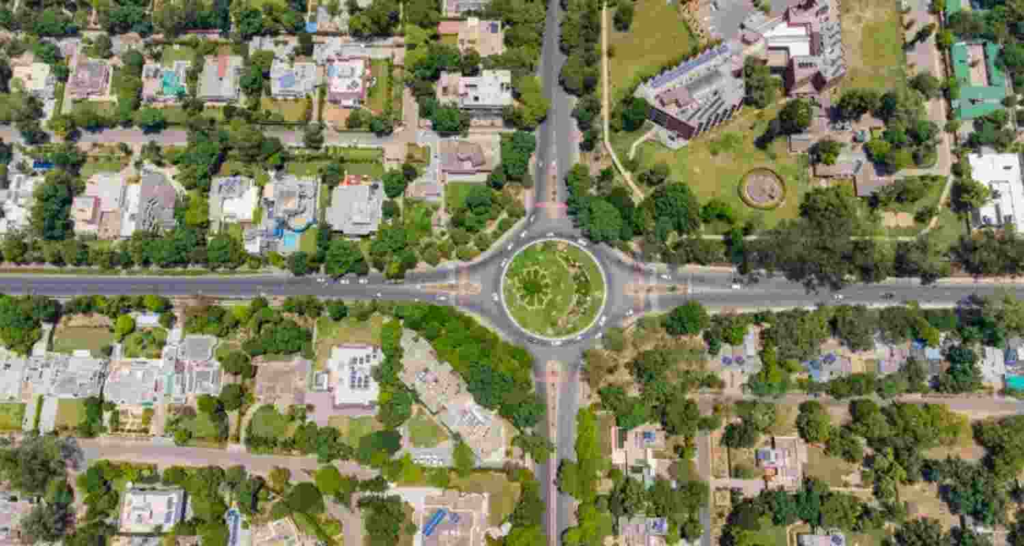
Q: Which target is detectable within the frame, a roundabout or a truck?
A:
roundabout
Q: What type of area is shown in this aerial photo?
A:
residential area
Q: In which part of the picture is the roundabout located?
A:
center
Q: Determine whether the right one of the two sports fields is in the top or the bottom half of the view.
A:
top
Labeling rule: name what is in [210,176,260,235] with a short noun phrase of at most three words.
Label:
house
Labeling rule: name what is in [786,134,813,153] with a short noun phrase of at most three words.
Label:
shed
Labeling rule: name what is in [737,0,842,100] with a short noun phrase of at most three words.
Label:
building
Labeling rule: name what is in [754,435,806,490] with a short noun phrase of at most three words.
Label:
house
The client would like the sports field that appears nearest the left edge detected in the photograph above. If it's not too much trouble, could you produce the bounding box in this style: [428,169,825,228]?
[607,0,683,87]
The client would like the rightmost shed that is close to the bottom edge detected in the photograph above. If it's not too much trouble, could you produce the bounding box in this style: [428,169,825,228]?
[960,511,989,531]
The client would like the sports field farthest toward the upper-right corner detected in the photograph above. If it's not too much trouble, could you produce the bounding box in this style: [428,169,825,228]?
[843,0,902,91]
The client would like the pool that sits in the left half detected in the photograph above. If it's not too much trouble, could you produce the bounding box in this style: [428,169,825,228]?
[285,229,299,248]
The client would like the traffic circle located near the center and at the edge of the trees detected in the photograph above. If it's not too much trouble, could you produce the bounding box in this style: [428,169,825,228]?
[502,237,606,341]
